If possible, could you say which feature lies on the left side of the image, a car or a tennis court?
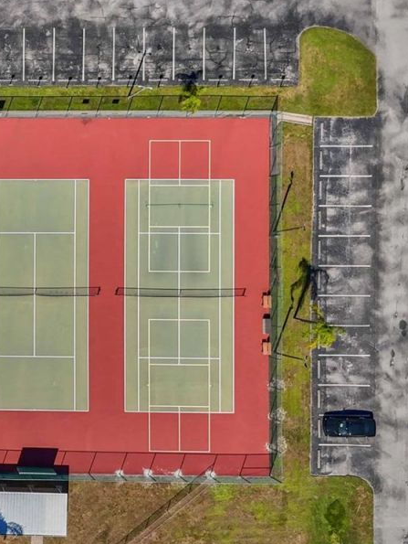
tennis court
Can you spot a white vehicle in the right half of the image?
No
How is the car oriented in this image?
from side to side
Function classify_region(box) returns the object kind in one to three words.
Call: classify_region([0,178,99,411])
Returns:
tennis court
